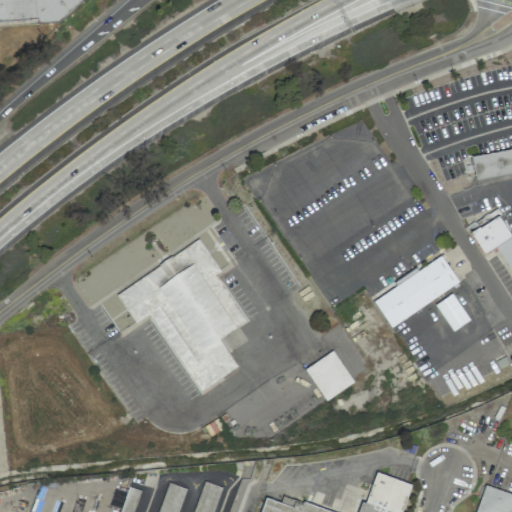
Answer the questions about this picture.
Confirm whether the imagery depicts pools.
No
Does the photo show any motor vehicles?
Yes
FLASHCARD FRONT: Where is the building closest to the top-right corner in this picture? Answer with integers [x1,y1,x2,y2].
[474,148,512,180]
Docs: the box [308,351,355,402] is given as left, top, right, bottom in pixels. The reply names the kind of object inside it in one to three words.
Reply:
building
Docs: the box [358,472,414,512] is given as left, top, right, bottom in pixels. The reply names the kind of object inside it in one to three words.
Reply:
building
